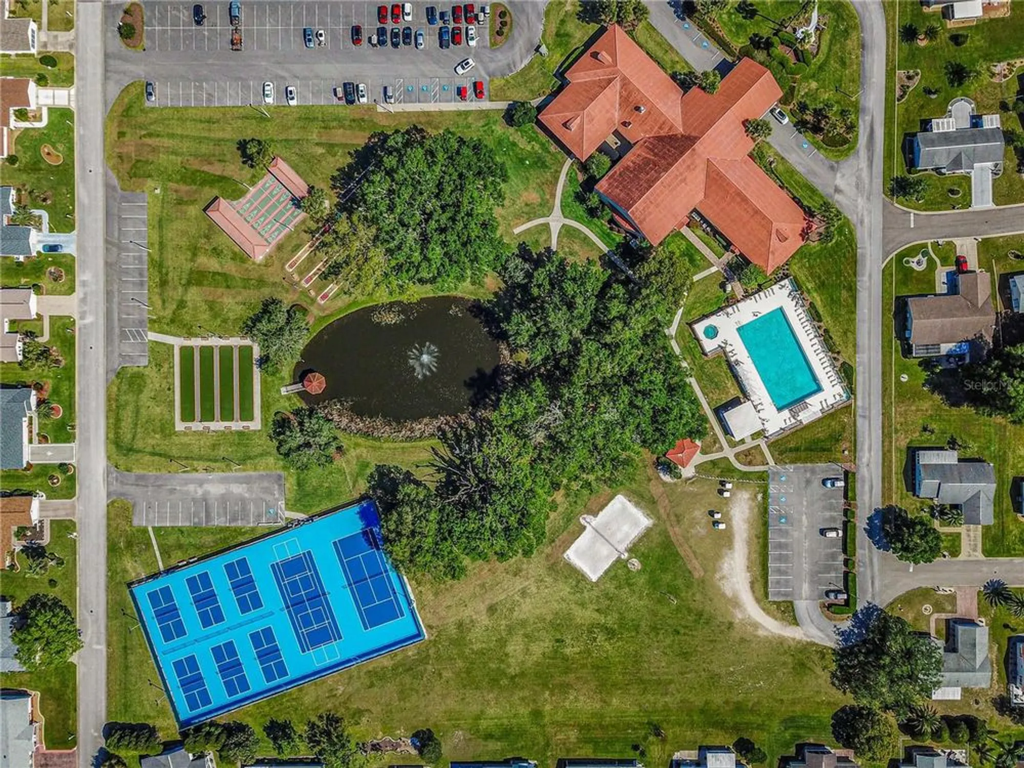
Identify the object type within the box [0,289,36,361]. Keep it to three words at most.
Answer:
house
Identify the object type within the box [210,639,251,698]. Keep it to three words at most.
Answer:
sports court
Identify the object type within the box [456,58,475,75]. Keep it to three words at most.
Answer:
car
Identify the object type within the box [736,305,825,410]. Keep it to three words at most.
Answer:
swimming pool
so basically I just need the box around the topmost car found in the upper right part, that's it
[771,106,789,125]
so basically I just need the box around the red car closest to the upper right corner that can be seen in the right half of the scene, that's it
[956,254,968,274]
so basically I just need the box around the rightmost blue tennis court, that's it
[332,527,405,631]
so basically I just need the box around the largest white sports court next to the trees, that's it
[563,494,654,582]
